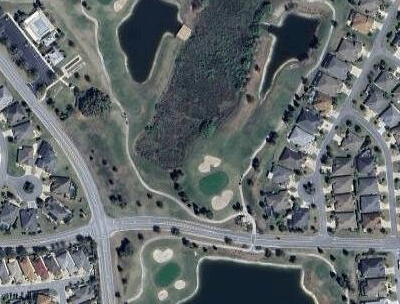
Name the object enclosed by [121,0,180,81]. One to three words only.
pond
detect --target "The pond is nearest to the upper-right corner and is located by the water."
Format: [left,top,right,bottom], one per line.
[262,15,318,95]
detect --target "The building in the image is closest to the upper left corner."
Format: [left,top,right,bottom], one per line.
[22,10,56,43]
